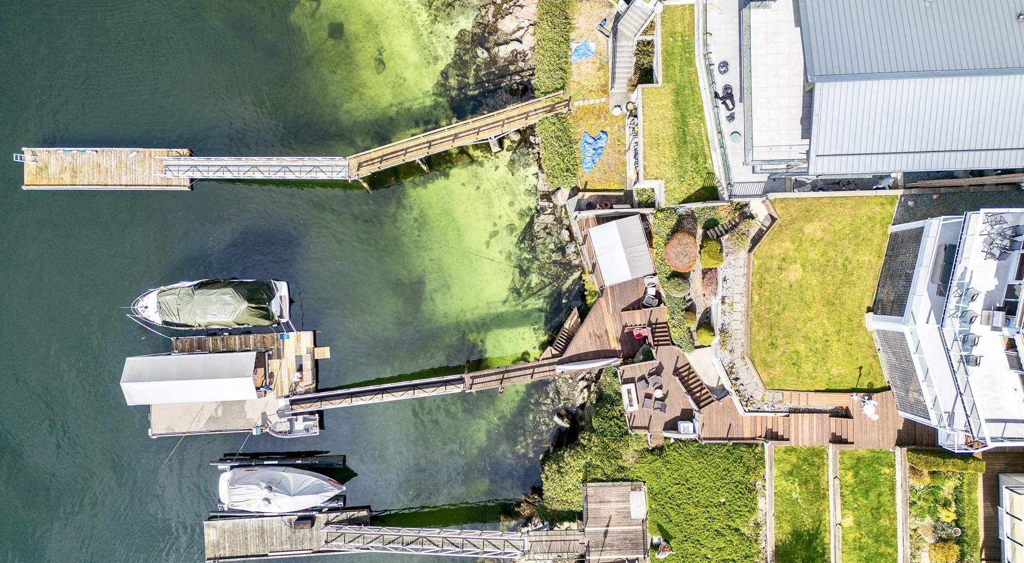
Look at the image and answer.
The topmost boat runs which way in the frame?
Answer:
from side to side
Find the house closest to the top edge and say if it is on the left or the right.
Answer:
right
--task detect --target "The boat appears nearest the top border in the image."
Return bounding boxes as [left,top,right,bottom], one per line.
[120,278,297,330]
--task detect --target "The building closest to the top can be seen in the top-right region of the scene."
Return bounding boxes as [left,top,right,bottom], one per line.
[738,0,1024,182]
